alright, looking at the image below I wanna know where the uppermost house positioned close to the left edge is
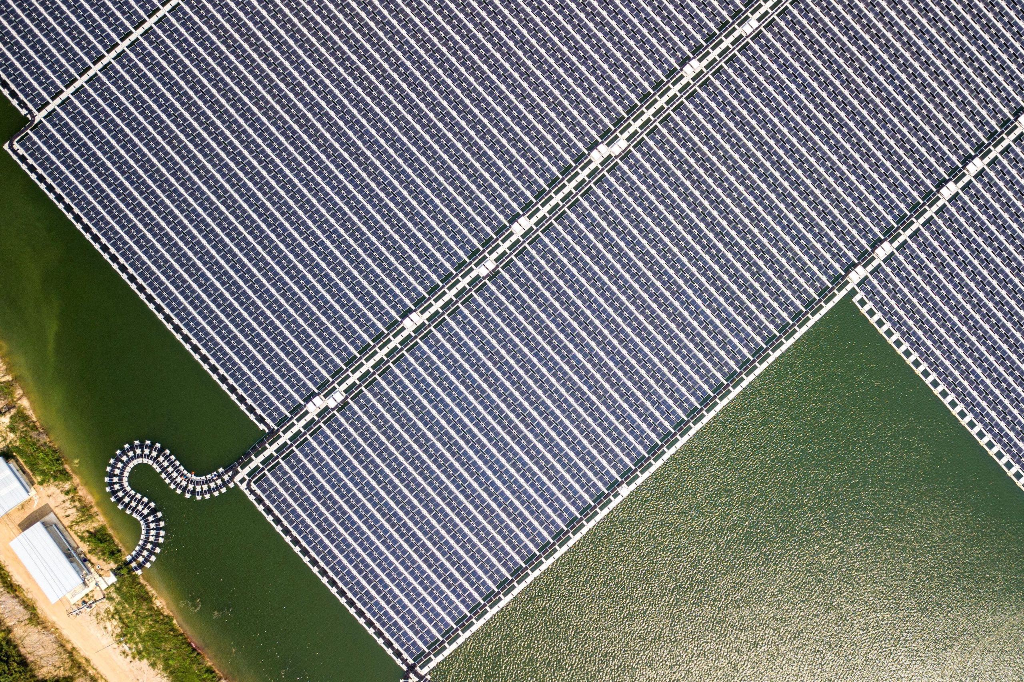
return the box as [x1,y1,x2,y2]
[0,453,47,517]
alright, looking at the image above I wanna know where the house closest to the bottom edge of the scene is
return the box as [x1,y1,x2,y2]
[9,517,93,605]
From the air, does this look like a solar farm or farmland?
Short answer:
solar farm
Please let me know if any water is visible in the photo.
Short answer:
Yes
